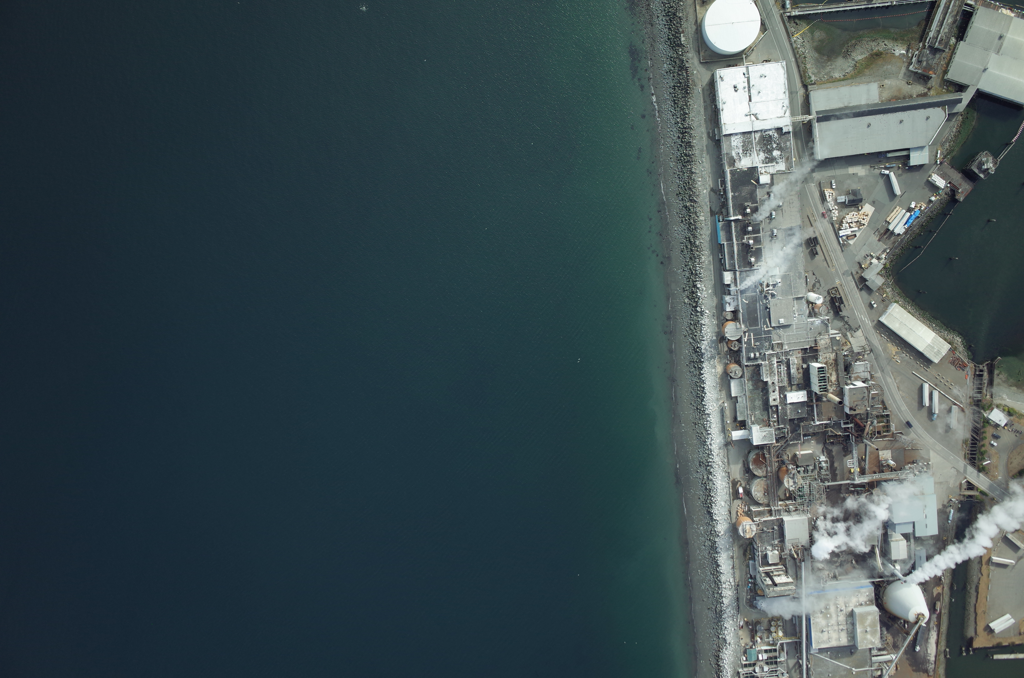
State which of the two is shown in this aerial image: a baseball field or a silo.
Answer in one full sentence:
Of the two, only a silo appears.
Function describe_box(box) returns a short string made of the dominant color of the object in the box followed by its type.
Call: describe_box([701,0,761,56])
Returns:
white storage tank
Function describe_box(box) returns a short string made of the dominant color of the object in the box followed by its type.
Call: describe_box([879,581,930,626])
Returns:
white silo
